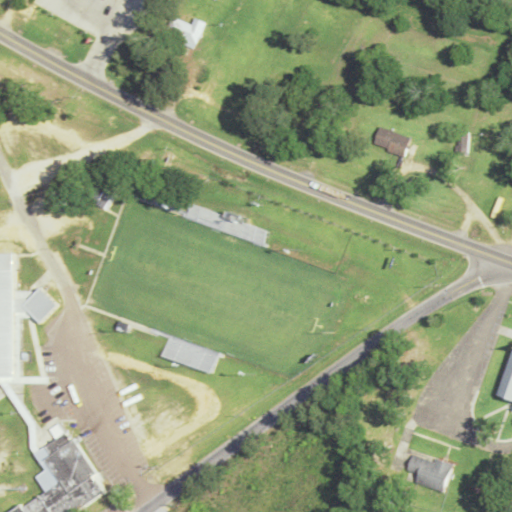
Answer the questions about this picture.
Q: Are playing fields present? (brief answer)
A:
Yes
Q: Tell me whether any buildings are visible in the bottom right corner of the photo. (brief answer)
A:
Yes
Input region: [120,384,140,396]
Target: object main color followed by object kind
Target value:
white vehicle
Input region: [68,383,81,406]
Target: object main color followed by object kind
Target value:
white vehicle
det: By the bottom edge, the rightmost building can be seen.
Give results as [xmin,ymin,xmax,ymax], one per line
[405,455,456,492]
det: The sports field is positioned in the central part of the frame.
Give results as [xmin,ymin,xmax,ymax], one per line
[88,204,346,376]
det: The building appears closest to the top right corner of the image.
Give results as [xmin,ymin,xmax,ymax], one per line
[452,132,471,156]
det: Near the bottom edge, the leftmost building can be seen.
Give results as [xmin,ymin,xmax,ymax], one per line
[12,436,106,512]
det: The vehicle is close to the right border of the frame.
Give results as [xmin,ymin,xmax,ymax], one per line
[492,196,505,220]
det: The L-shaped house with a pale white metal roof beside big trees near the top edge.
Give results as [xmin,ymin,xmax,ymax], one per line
[169,17,209,51]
